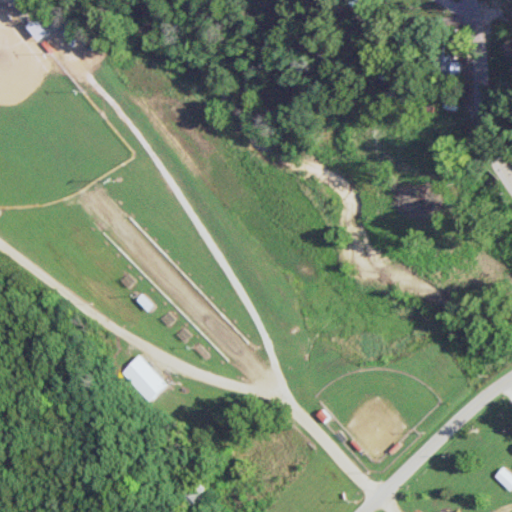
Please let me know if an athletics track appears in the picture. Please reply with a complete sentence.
Yes, you can see an athletics track in this photo.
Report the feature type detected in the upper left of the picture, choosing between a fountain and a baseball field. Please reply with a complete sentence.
It is a baseball field that can be seen in the upper left of the picture.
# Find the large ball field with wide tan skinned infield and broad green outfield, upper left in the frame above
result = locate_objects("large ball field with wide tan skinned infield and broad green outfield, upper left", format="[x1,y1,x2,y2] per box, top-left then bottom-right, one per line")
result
[0,12,135,210]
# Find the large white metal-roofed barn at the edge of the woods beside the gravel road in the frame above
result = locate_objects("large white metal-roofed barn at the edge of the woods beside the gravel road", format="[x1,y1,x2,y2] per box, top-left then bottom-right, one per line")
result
[121,354,169,404]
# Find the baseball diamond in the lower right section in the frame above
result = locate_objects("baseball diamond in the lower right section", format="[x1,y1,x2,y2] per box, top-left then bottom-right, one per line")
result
[315,367,441,474]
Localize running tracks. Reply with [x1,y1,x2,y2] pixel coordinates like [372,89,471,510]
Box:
[86,188,274,385]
